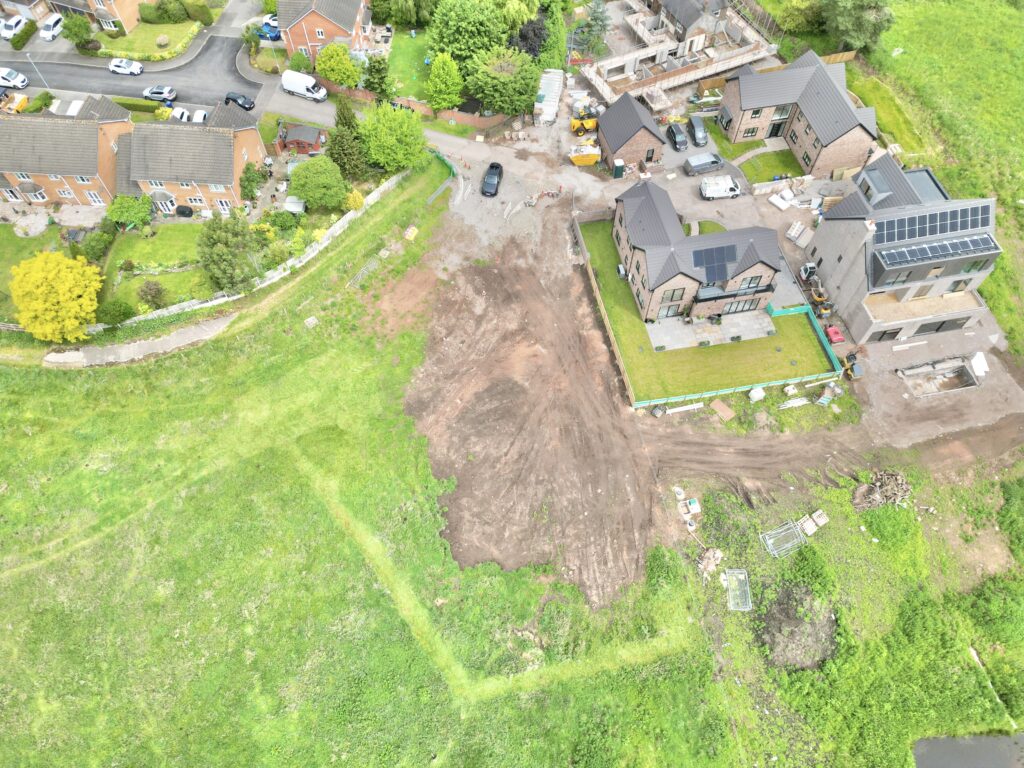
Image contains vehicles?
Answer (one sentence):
Yes, I can see a vehicle in this picture.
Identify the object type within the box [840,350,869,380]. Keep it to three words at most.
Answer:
truck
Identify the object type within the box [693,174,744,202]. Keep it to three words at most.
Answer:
van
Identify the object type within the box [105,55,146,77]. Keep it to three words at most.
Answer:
car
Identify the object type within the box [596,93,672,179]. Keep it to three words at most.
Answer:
building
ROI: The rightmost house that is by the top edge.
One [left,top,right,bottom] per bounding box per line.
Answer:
[713,35,883,177]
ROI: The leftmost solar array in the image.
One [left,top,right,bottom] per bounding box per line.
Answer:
[703,237,747,278]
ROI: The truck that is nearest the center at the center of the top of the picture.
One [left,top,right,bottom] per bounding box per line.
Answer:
[481,159,502,199]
